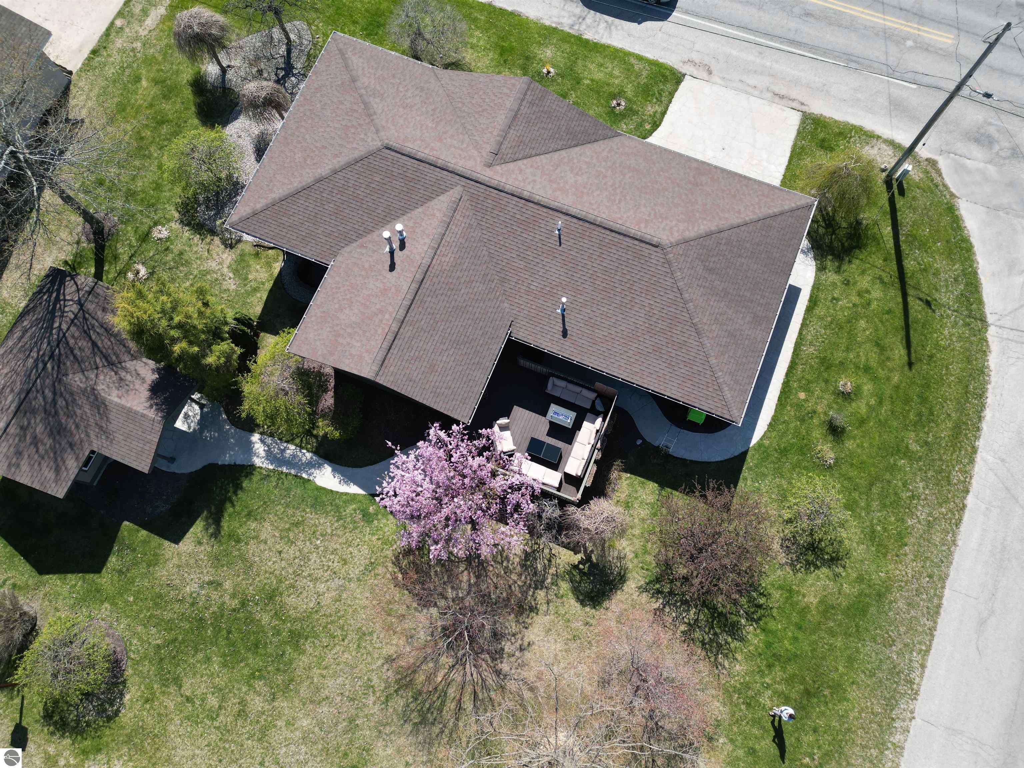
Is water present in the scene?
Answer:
No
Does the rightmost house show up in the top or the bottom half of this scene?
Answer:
top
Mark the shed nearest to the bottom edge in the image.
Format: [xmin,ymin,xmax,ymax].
[0,267,207,499]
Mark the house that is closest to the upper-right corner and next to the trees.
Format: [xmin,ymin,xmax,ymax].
[226,32,816,425]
